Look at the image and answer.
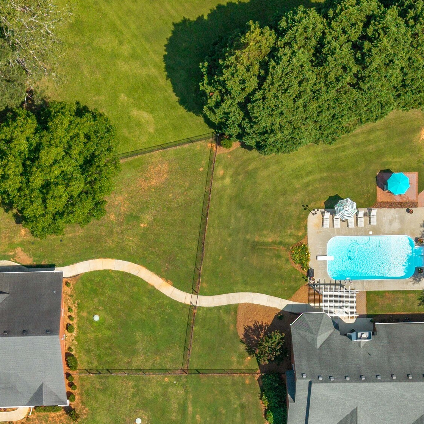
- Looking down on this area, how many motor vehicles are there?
0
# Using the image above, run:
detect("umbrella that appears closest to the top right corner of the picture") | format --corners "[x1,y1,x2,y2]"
[388,172,410,194]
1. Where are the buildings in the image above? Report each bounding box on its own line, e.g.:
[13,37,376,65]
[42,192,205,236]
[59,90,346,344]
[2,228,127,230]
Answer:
[0,271,69,414]
[286,311,424,424]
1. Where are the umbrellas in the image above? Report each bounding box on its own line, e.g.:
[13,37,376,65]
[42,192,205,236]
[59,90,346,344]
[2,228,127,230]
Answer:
[388,172,410,194]
[334,197,357,219]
